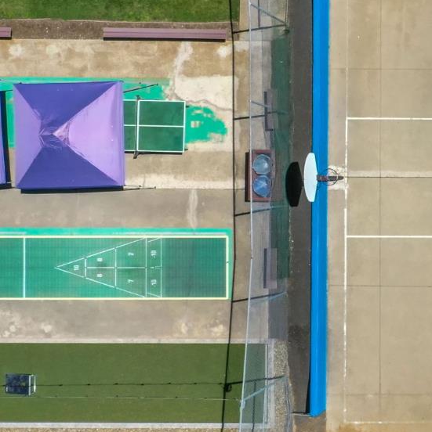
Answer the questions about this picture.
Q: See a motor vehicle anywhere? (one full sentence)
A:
No, there is no motor vehicle in the image.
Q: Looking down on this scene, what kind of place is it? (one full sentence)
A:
It's a sports ground.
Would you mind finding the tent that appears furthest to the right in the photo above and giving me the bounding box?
[15,82,162,192]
